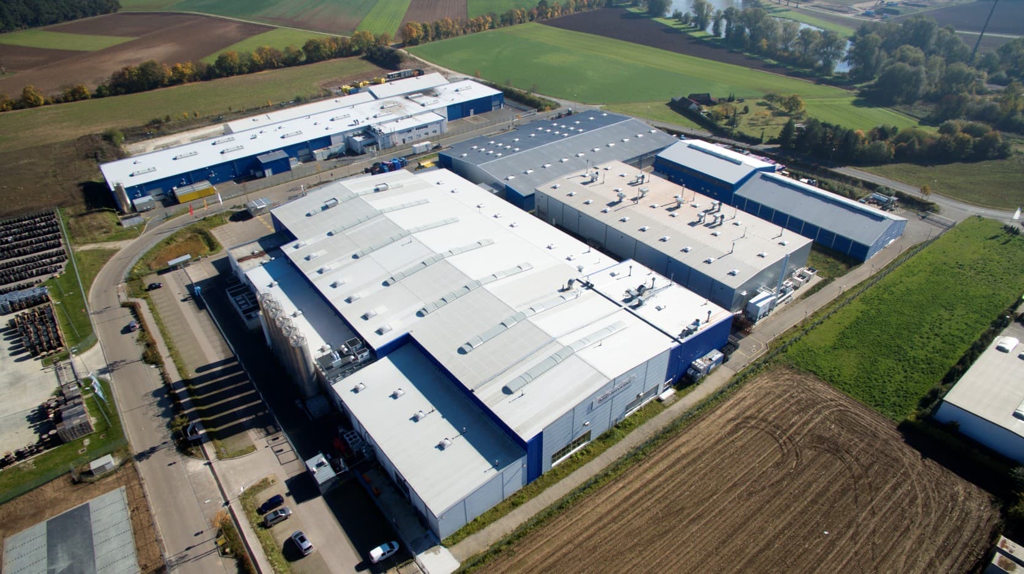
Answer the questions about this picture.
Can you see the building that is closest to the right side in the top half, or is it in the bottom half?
bottom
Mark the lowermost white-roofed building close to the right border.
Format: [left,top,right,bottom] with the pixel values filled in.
[933,330,1024,475]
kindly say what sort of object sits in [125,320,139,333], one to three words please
vehicle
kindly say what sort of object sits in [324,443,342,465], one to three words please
work vehicle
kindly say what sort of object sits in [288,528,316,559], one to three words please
car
